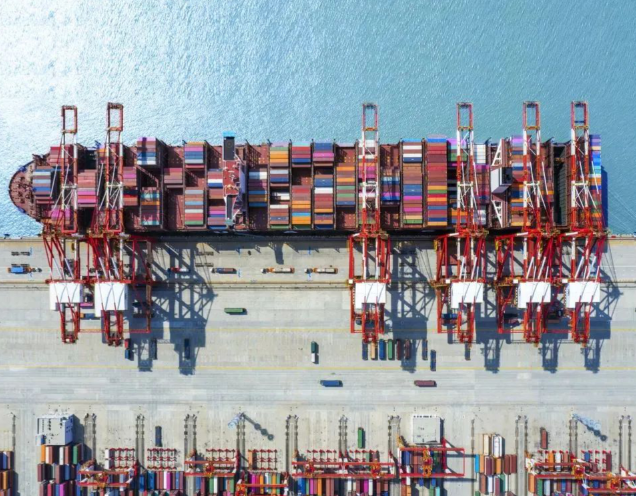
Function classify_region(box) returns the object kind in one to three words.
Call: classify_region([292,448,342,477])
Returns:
container crane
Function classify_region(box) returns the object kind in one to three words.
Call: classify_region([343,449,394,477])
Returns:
container crane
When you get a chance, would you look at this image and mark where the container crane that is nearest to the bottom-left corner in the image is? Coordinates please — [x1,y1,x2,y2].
[78,458,138,485]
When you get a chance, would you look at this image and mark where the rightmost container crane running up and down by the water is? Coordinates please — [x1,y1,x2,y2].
[534,101,605,342]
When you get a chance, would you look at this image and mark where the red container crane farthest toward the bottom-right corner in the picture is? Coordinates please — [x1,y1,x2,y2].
[576,466,636,492]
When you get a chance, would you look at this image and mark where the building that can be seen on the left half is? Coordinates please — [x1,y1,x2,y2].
[37,412,76,445]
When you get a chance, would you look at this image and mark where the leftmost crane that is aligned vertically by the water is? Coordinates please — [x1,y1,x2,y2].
[42,104,120,342]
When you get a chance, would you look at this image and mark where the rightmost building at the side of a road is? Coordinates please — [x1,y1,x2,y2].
[407,411,440,442]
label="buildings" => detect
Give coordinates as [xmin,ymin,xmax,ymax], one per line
[407,411,440,442]
[37,412,76,445]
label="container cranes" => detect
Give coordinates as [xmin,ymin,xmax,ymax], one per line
[91,101,161,342]
[525,450,586,479]
[491,101,553,342]
[292,448,342,477]
[348,102,390,342]
[42,104,120,342]
[396,436,463,477]
[78,458,138,485]
[237,469,288,496]
[184,448,238,477]
[343,449,394,477]
[432,102,484,342]
[534,101,605,342]
[576,466,636,492]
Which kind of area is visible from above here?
port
